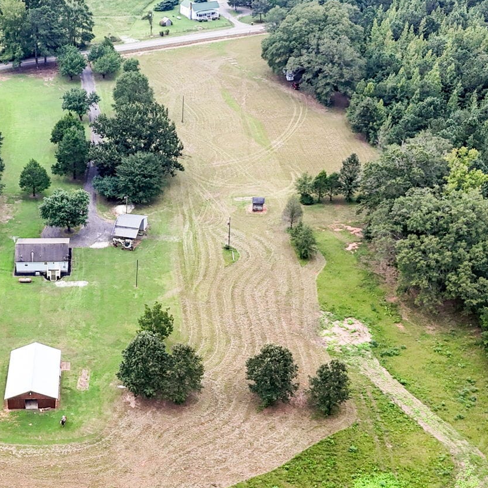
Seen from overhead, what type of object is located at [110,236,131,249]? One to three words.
vehicle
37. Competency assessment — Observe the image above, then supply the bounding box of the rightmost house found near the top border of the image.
[179,1,219,20]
